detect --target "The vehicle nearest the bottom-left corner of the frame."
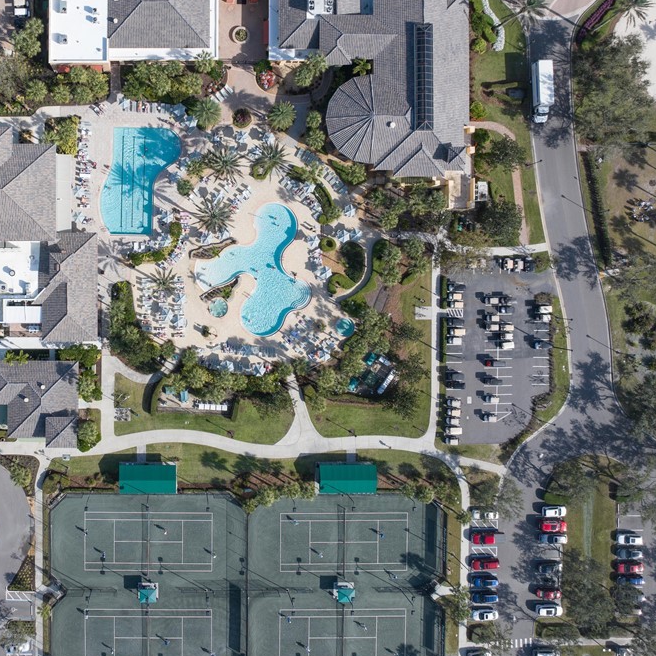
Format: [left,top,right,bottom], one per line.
[6,640,32,654]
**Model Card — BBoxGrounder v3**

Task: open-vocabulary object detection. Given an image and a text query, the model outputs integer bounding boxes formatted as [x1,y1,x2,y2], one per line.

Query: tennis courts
[51,494,247,591]
[51,591,247,656]
[247,495,447,591]
[247,591,442,656]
